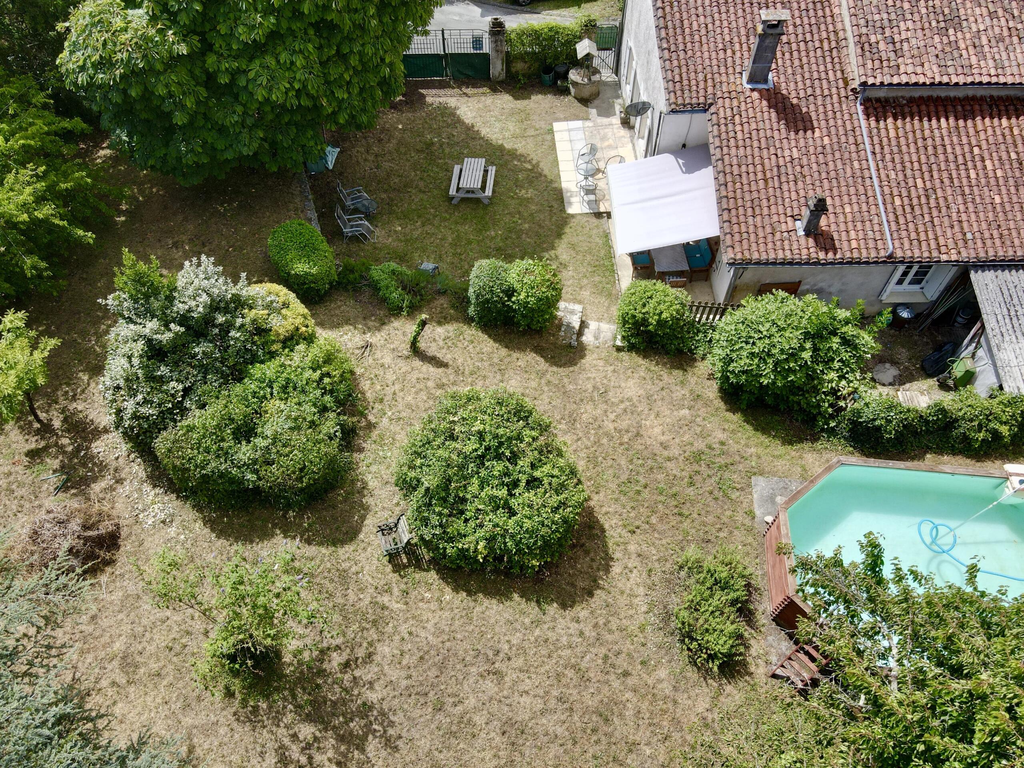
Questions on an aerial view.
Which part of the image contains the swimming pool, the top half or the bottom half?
bottom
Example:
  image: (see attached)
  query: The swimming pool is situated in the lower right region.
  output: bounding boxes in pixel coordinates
[767,454,1024,690]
